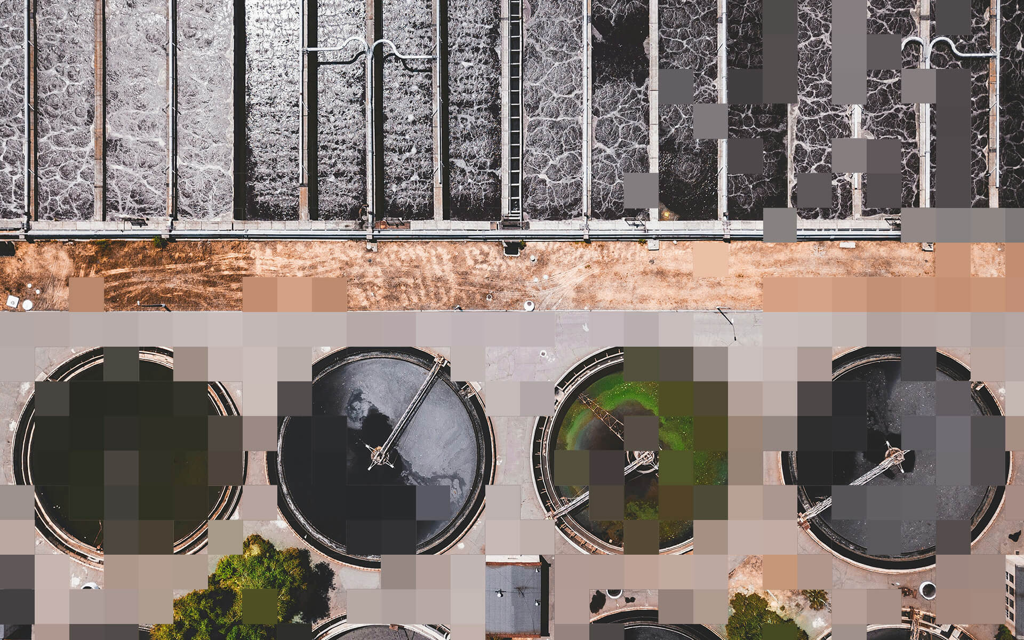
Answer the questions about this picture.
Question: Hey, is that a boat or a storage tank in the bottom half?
storage tank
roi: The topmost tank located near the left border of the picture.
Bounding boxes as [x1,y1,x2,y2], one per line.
[11,341,247,577]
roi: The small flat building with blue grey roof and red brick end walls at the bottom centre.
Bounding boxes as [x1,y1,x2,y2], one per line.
[484,547,542,639]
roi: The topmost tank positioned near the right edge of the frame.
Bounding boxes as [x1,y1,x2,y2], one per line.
[780,343,1013,575]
